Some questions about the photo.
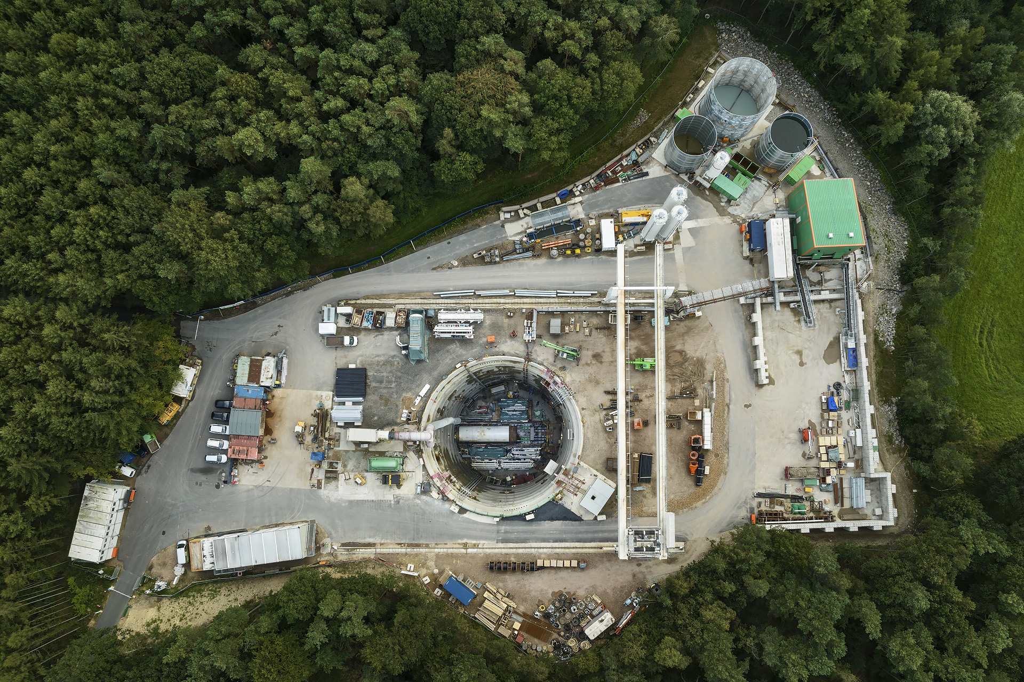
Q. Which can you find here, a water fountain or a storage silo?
storage silo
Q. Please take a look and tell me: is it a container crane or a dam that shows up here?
container crane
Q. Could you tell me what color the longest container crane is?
white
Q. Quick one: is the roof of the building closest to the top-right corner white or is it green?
green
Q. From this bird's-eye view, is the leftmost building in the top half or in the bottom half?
bottom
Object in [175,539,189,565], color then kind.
white vehicle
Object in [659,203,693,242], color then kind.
white silo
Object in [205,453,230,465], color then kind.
white vehicle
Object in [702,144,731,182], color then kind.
white silo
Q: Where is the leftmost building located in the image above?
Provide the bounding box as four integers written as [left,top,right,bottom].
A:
[69,481,131,562]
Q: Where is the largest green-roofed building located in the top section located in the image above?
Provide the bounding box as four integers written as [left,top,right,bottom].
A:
[789,176,866,257]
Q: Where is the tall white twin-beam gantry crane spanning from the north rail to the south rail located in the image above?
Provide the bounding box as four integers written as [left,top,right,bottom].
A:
[592,244,671,567]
